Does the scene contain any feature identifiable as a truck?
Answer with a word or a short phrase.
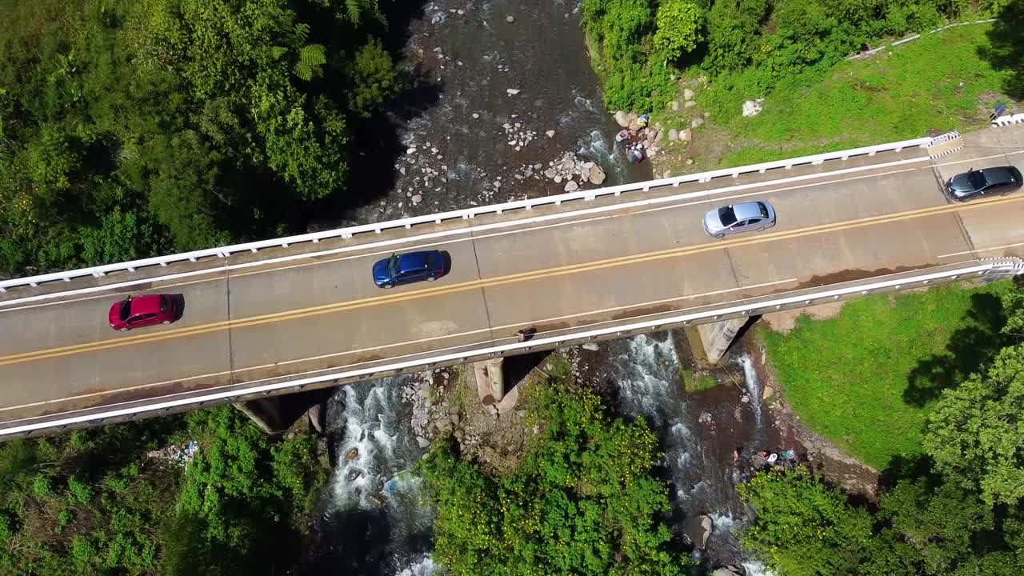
No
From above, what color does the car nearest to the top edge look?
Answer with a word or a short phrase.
black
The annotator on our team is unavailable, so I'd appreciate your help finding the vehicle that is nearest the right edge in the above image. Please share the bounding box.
[946,167,1021,203]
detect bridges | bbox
[0,136,1024,479]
